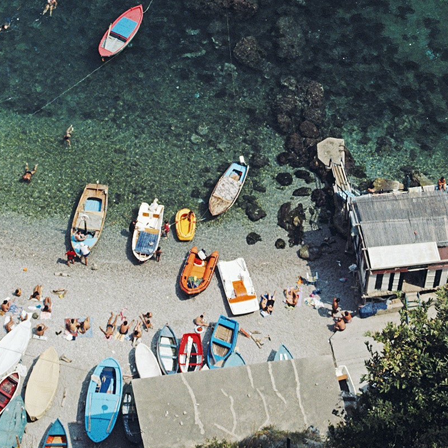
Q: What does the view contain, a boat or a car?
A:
boat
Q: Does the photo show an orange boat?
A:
Yes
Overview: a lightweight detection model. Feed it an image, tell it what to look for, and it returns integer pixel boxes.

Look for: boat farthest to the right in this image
[336,367,355,413]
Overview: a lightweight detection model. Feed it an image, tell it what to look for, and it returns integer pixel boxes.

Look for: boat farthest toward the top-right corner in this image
[209,151,246,214]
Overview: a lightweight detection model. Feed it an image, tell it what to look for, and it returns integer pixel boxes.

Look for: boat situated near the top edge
[100,7,143,67]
